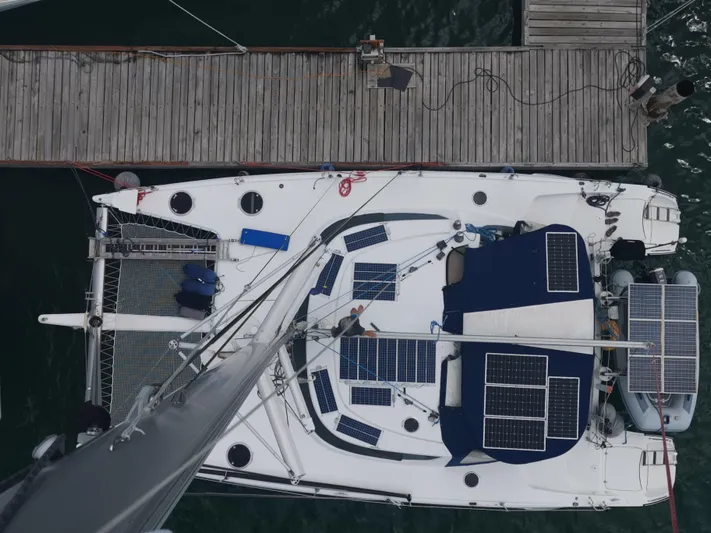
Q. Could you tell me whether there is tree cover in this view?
No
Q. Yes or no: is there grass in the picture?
No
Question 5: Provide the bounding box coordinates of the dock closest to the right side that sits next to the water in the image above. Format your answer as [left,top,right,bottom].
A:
[522,0,647,46]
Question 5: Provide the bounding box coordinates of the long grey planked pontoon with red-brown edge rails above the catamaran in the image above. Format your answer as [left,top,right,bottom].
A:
[0,45,648,171]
